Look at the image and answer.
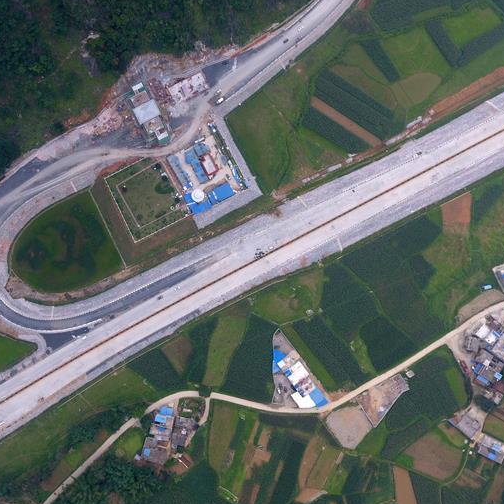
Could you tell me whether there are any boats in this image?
No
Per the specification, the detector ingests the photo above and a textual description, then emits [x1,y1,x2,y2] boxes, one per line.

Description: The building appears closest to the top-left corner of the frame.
[129,82,171,148]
